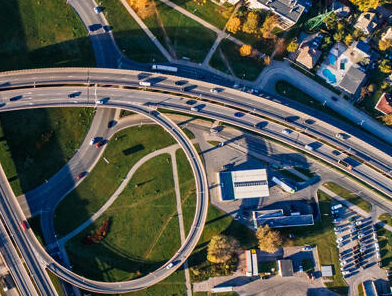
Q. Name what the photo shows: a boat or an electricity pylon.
electricity pylon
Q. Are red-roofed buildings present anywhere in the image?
Yes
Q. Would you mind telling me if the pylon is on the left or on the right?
right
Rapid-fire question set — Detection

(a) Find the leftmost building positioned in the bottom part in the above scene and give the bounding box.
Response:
[219,169,268,199]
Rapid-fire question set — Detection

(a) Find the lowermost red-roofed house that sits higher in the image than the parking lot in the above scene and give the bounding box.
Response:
[371,91,392,117]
